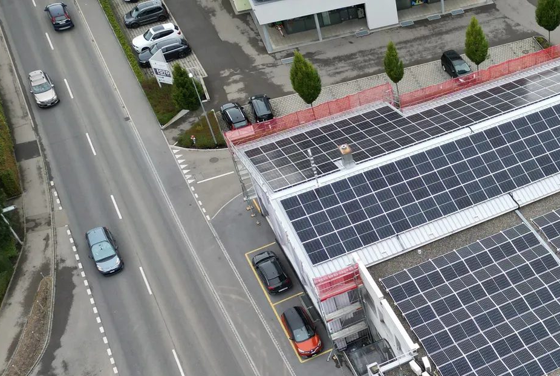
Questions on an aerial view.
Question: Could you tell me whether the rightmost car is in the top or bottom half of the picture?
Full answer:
The rightmost car is in the top half of the image.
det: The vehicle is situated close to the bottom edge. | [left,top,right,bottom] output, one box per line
[279,304,322,358]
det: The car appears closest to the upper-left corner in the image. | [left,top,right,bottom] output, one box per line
[46,6,75,33]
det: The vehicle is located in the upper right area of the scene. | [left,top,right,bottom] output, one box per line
[433,45,470,76]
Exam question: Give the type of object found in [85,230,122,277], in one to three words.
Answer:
car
